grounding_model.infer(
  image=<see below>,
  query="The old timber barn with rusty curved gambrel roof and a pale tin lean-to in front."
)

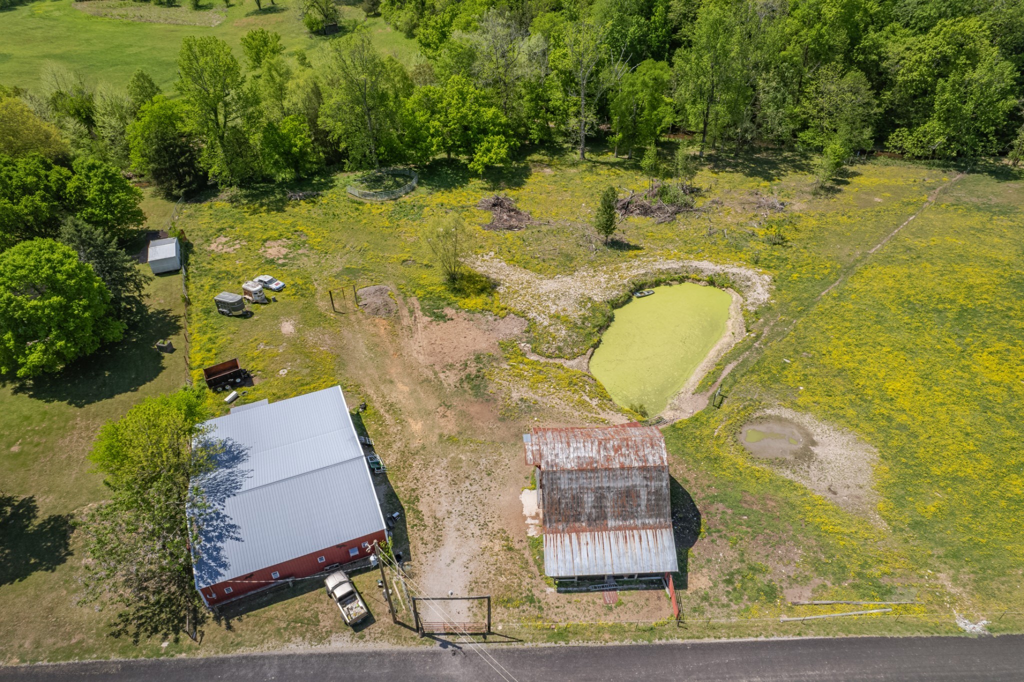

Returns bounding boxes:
[522,421,678,590]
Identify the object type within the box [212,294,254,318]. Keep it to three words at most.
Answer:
trailer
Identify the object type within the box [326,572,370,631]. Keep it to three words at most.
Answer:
truck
